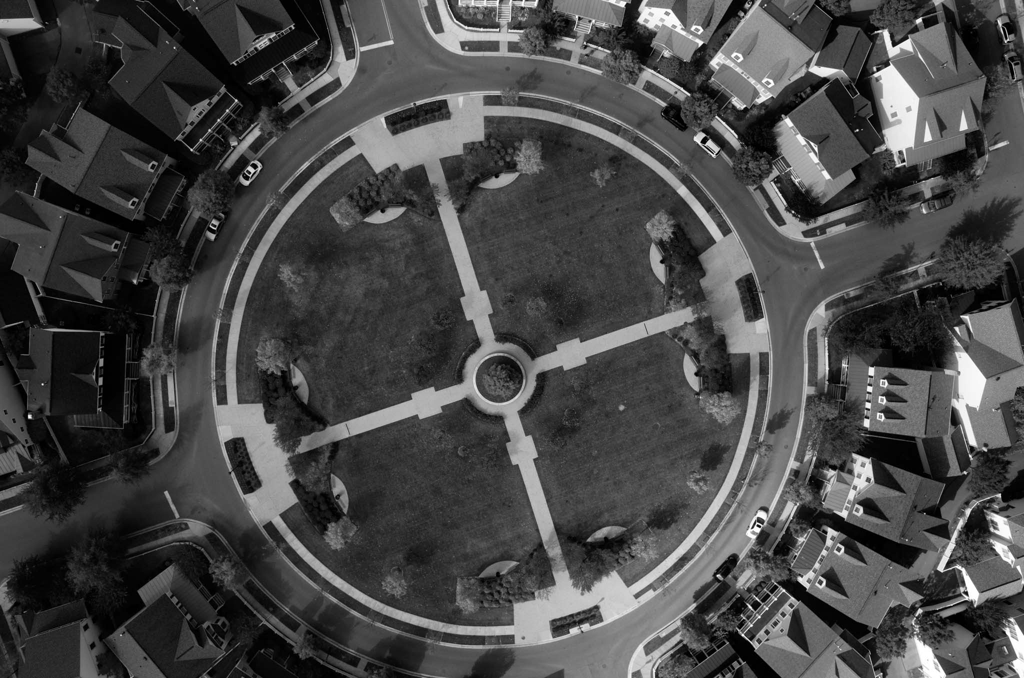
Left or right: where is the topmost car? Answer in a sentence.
It is on the right.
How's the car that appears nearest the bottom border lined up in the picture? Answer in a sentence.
Seen from above, the car that appears nearest the bottom border lies at an angle.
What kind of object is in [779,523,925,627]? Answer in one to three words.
house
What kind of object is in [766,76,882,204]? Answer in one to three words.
house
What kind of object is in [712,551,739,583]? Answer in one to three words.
car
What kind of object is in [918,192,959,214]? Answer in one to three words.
truck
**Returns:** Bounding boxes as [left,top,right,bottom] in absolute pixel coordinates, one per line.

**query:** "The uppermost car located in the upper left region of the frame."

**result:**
[237,155,266,190]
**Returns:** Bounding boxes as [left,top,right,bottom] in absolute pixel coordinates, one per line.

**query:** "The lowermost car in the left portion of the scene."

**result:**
[202,210,229,243]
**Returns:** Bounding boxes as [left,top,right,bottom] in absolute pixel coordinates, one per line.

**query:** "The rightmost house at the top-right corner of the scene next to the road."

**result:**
[870,7,1001,174]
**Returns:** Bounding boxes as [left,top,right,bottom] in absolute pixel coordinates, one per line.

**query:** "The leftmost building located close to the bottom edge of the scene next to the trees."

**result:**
[25,595,115,678]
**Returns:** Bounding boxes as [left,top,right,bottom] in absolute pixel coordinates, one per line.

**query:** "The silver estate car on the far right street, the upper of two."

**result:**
[994,12,1019,45]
